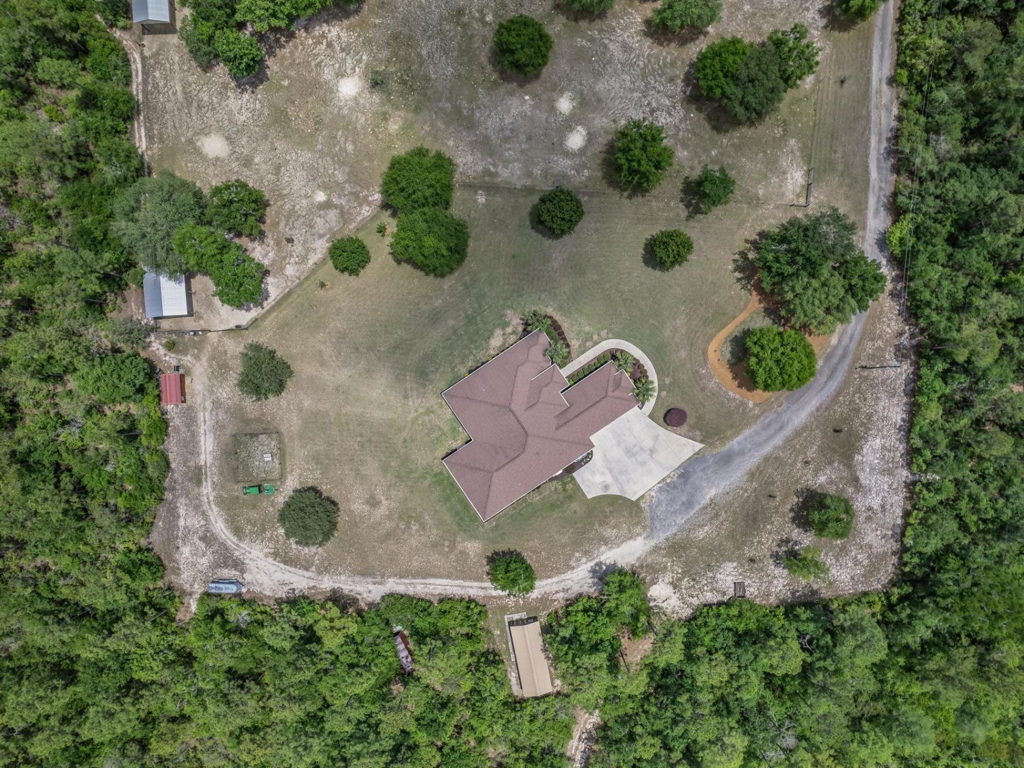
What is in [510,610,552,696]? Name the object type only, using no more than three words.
shed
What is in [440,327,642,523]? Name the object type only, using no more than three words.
house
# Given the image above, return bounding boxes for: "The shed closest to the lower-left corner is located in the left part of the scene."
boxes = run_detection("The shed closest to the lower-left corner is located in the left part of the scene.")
[163,374,189,404]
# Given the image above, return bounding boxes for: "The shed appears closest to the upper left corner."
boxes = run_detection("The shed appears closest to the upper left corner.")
[132,0,179,33]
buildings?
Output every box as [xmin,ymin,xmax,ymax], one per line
[163,374,189,404]
[510,610,552,696]
[132,0,179,33]
[440,327,642,523]
[142,263,194,318]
